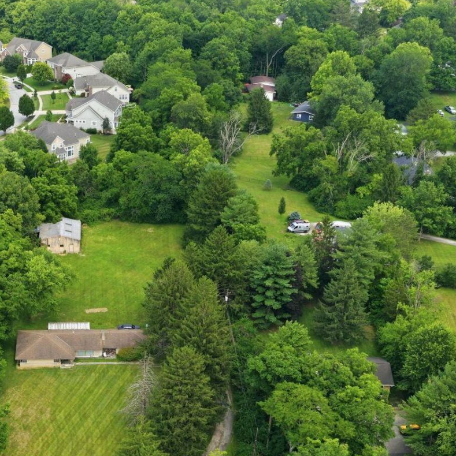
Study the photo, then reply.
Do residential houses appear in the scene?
Yes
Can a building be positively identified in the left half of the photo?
Yes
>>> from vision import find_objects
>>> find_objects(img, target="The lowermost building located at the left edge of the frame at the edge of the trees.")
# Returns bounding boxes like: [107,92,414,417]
[12,327,148,375]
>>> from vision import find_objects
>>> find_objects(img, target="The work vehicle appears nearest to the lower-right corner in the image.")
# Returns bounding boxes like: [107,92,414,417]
[398,422,420,435]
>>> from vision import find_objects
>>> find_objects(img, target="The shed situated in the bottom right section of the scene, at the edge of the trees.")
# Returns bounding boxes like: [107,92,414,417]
[364,361,394,396]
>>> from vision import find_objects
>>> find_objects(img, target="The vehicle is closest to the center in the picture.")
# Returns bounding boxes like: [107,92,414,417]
[287,219,312,232]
